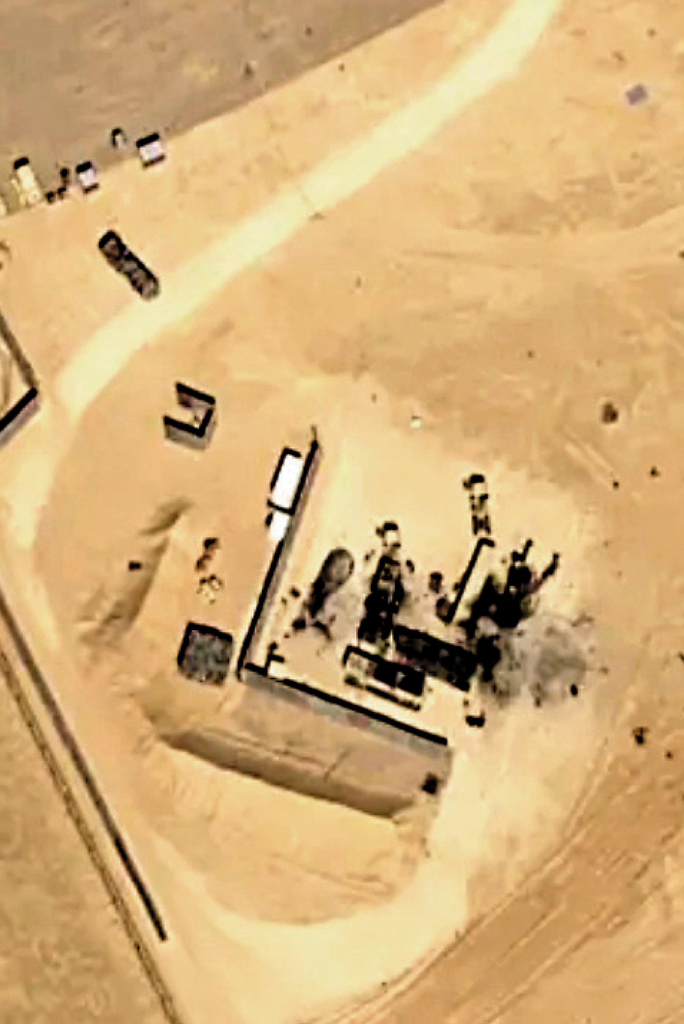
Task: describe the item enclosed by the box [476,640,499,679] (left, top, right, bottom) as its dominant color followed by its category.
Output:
black truck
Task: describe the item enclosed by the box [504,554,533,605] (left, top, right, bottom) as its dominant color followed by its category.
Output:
black truck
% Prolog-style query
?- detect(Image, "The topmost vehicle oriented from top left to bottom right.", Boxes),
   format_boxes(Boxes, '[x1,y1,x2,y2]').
[100,240,158,304]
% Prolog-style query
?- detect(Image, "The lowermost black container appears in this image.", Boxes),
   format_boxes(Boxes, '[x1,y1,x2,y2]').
[388,629,480,687]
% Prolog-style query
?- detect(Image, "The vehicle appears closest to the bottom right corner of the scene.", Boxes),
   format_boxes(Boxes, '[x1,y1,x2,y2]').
[463,680,488,726]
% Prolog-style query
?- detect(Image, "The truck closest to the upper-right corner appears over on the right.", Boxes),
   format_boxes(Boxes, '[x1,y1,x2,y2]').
[469,485,496,538]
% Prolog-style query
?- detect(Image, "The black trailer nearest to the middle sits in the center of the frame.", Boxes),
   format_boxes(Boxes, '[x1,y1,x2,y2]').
[365,561,402,640]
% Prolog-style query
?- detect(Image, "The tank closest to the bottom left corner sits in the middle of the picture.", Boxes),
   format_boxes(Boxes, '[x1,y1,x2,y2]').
[313,558,357,622]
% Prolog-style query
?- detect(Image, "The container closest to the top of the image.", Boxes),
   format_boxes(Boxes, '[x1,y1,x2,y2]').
[273,456,305,507]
